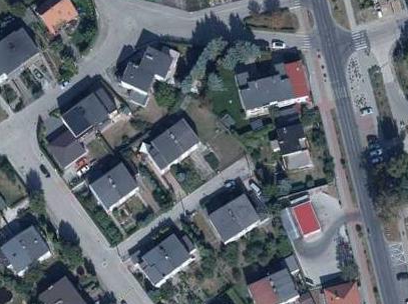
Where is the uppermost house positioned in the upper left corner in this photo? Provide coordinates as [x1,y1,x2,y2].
[39,0,79,36]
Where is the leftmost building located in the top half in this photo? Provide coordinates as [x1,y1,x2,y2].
[0,29,41,84]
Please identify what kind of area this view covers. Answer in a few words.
residential area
